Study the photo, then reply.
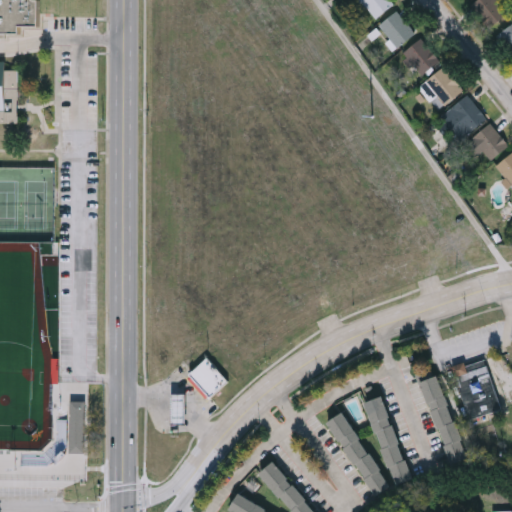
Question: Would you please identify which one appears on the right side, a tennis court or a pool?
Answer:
pool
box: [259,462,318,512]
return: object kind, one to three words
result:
building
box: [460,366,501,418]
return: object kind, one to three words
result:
house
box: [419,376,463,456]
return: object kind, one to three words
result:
building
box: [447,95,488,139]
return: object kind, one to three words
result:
house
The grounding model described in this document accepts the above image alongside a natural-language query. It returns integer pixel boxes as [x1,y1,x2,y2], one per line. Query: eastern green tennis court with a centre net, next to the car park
[22,166,54,242]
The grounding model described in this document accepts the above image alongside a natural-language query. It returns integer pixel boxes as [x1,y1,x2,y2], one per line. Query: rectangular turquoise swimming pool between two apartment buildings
[344,396,368,424]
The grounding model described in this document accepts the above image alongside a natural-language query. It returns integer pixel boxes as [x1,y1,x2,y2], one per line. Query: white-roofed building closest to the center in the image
[188,358,229,400]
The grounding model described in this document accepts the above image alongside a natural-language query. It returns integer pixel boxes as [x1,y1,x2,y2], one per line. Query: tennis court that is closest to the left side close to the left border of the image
[0,166,22,242]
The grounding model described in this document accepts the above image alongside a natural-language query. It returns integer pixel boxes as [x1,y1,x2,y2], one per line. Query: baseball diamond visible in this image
[0,244,52,449]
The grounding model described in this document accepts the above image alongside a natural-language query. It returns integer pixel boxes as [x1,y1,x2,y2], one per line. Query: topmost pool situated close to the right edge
[490,182,507,208]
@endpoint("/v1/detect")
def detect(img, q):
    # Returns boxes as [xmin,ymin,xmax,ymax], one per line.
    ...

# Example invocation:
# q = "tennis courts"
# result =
[0,166,22,242]
[22,166,54,242]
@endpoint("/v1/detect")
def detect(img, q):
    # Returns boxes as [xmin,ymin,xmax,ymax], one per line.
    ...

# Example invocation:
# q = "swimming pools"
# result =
[344,396,368,424]
[490,182,507,208]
